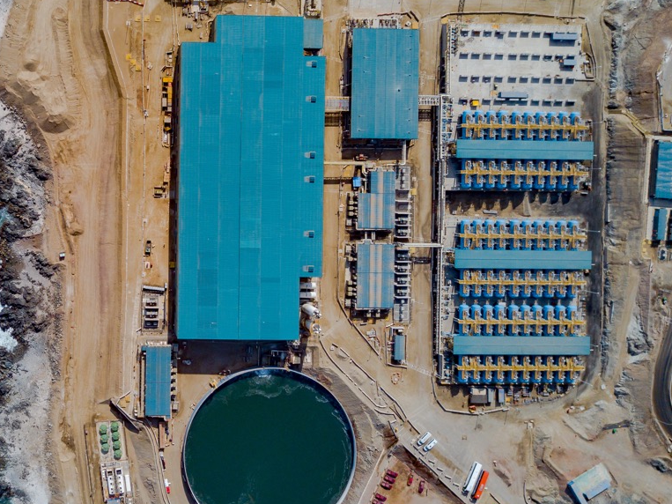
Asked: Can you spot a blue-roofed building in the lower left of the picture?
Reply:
Yes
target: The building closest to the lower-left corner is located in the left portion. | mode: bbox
[145,342,172,416]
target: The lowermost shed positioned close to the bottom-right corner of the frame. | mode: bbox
[568,463,611,504]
